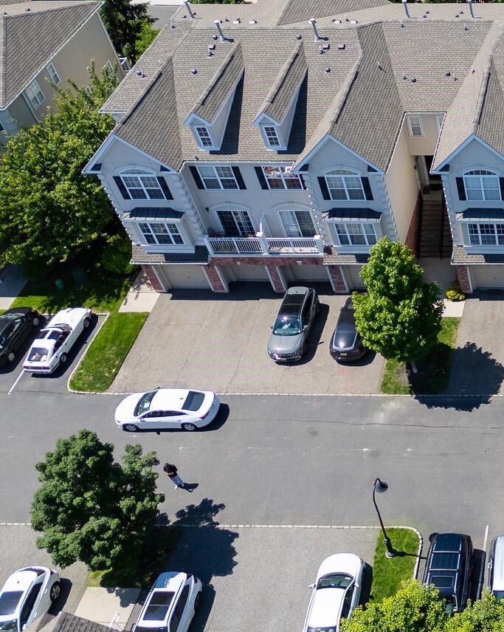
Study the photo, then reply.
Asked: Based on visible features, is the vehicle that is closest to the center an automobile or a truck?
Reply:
automobile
